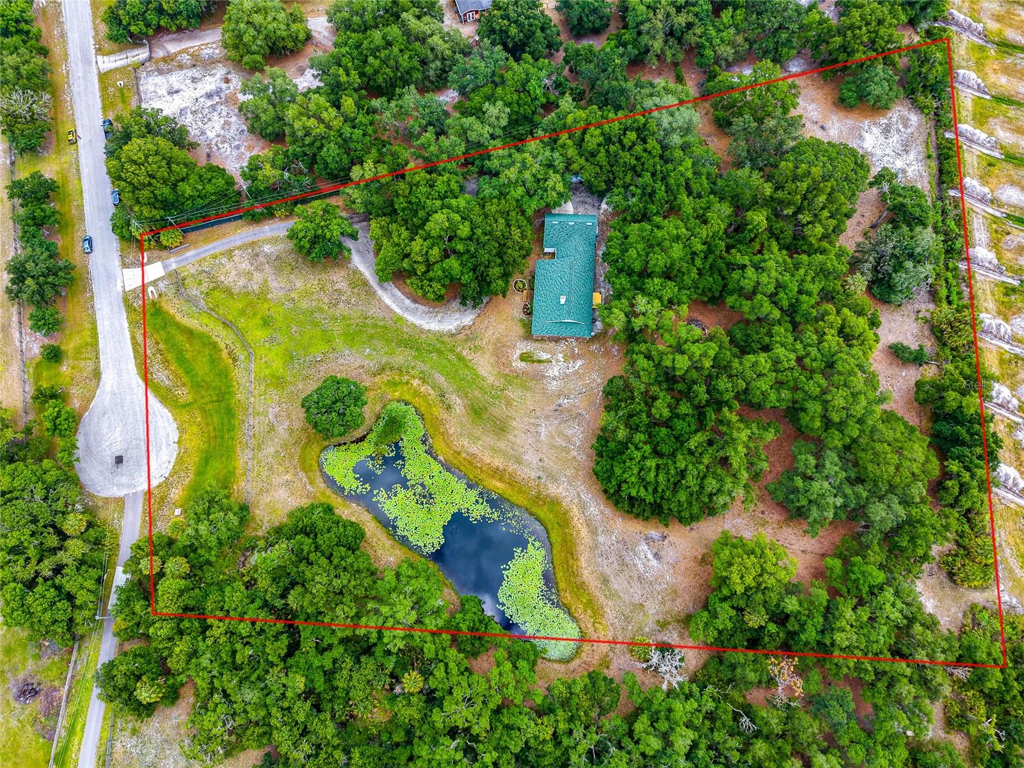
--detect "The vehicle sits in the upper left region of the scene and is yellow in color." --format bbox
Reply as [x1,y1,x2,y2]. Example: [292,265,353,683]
[64,125,78,144]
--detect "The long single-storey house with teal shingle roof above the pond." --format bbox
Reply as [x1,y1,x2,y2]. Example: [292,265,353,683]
[532,213,596,342]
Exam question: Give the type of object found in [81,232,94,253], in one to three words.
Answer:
vehicle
